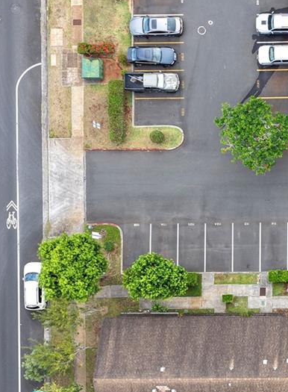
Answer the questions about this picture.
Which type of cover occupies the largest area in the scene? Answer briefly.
paved ground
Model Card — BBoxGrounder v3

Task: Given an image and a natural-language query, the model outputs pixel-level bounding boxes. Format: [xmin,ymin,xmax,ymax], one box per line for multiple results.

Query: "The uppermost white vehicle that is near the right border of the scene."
[255,9,288,36]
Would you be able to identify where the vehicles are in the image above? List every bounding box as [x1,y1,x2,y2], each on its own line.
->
[126,42,177,66]
[128,10,184,37]
[255,9,288,36]
[122,69,183,94]
[20,260,49,312]
[254,41,288,68]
